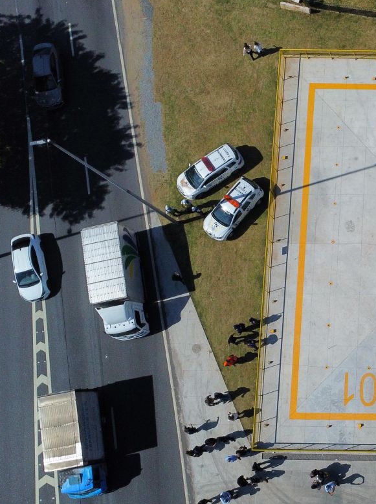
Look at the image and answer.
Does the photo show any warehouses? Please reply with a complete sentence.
No, I find no warehouse anywhere in the image.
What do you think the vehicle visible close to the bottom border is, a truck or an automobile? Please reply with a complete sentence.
It looks like the vehicle visible close to the bottom border is a truck.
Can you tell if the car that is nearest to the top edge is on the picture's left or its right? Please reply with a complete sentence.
You can find the car that is nearest to the top edge on the left side of the picture.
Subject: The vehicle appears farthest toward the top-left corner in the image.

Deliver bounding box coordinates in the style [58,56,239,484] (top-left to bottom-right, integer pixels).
[29,43,69,112]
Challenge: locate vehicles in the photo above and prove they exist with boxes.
[29,43,69,112]
[36,388,114,499]
[178,141,244,201]
[204,175,265,242]
[7,232,54,304]
[81,222,154,345]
